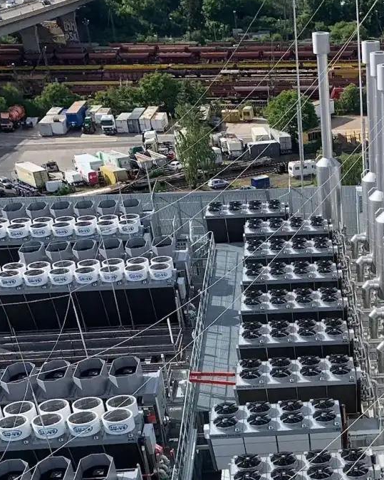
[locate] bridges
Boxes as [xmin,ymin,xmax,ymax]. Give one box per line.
[0,0,92,46]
